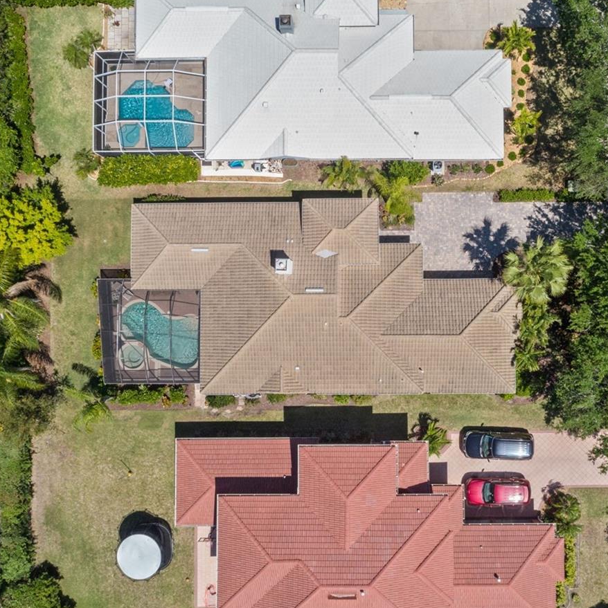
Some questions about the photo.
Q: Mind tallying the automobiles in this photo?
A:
2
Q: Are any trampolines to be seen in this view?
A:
Yes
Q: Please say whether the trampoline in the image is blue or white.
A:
white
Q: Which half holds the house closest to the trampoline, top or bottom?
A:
bottom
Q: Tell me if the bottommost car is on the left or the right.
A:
right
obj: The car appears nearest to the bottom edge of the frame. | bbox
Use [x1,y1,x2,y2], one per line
[466,476,530,510]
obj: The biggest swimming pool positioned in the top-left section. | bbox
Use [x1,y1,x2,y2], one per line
[117,77,197,150]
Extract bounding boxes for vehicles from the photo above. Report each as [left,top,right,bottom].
[466,476,530,510]
[463,428,533,463]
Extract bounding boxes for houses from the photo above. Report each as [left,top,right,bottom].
[129,196,524,397]
[173,436,567,608]
[133,0,514,161]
